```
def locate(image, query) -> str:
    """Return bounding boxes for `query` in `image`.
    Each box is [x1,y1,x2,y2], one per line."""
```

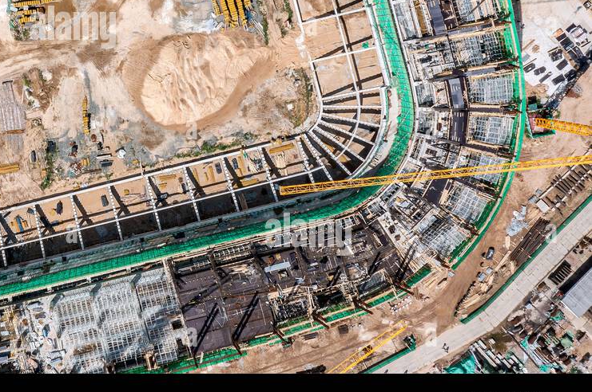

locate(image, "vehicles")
[485,245,497,262]
[569,23,592,44]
